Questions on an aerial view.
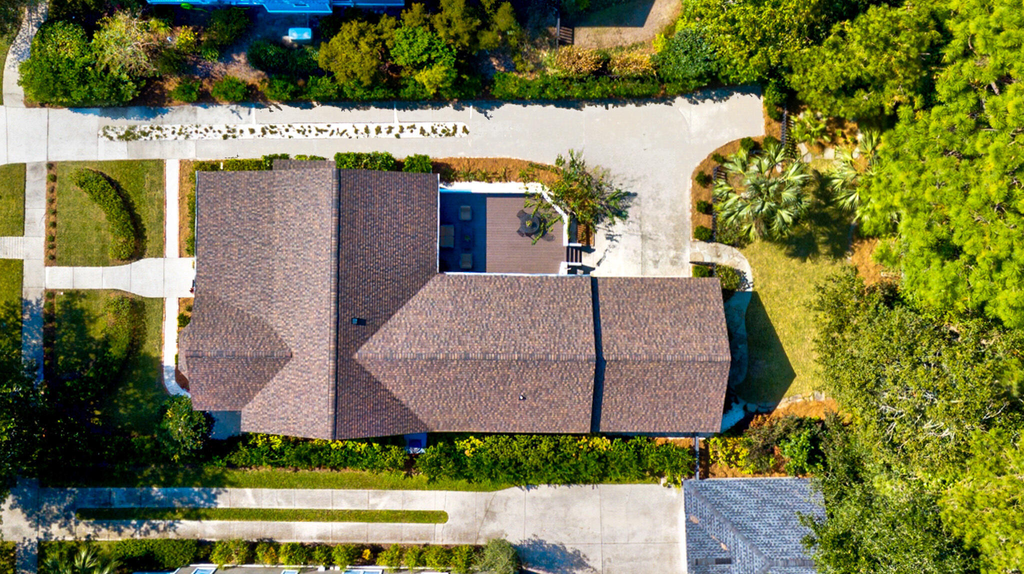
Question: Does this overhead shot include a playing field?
No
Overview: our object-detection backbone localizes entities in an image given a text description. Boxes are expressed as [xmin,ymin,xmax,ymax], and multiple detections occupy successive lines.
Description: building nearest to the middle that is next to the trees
[179,160,731,439]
